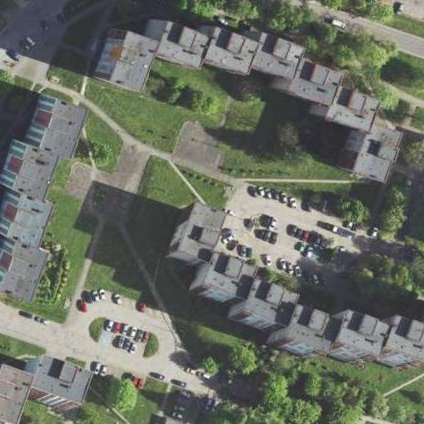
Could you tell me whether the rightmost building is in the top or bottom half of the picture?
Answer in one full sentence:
The bottom half of the photo is where the rightmost building is.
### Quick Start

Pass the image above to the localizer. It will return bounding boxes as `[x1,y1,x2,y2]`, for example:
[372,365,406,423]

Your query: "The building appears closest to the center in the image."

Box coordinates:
[167,202,226,268]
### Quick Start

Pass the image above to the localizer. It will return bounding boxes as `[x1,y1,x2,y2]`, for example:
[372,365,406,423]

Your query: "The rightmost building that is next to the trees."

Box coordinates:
[372,314,424,367]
